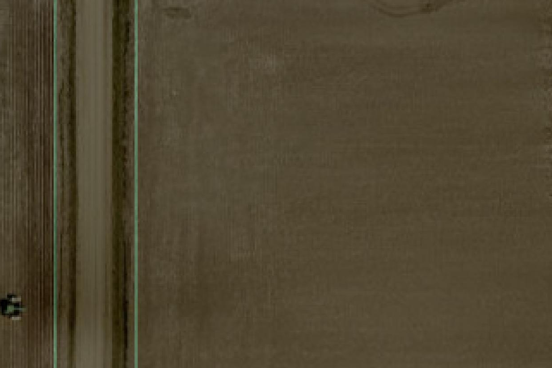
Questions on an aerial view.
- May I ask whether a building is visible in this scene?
No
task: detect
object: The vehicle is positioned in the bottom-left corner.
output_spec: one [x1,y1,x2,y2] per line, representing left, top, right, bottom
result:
[1,297,25,322]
